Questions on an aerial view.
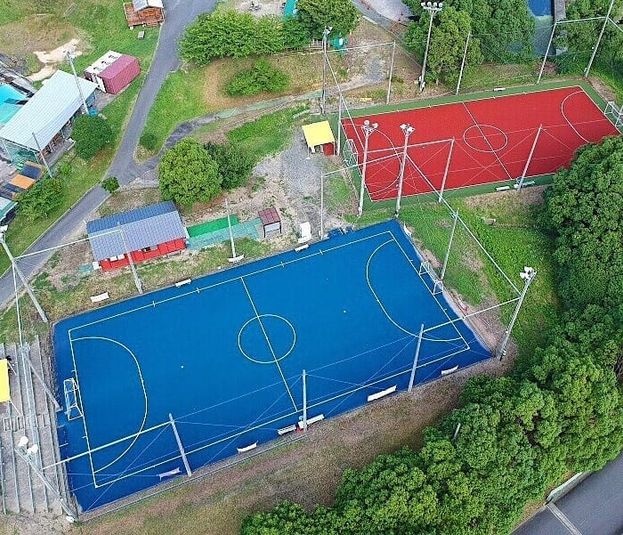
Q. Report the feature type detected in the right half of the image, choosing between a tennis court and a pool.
pool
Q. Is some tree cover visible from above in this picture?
Yes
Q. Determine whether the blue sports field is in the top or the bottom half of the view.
bottom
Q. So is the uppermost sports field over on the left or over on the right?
right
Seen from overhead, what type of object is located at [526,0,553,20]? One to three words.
swimming pool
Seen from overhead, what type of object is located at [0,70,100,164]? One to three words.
building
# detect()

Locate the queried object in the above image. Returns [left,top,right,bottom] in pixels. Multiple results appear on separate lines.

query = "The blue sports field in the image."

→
[50,219,495,516]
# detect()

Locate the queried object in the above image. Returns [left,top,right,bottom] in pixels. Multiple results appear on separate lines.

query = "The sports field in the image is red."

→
[321,77,623,215]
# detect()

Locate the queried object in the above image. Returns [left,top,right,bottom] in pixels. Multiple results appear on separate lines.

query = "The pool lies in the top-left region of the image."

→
[0,93,25,125]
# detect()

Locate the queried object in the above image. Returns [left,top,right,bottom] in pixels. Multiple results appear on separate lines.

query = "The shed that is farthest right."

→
[303,121,335,161]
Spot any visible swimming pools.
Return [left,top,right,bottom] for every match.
[0,93,25,125]
[526,0,553,20]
